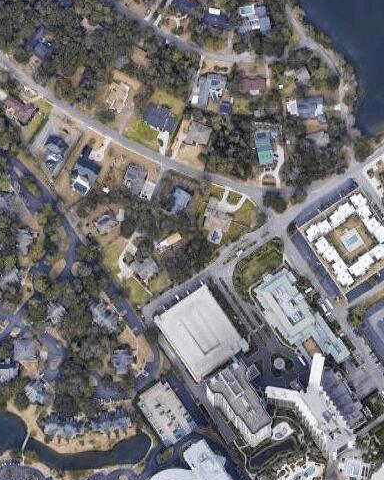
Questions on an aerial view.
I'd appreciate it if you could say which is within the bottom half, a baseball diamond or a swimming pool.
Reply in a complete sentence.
It is a swimming pool that can be seen within the bottom half.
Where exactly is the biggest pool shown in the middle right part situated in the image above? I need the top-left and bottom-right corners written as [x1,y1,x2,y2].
[340,226,364,252]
